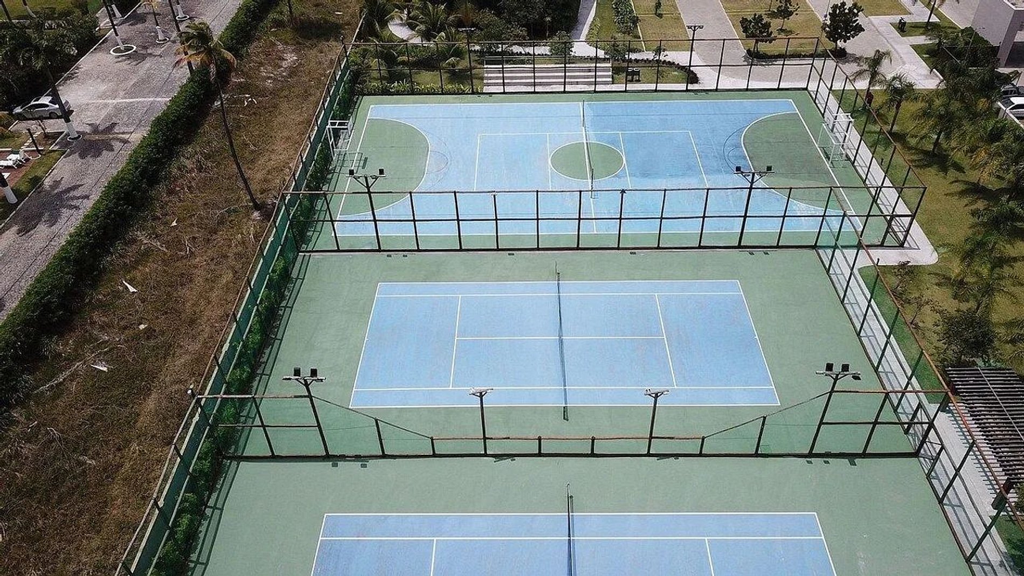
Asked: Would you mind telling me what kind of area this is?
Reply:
sports ground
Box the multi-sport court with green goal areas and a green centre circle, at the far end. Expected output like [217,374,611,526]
[304,89,901,249]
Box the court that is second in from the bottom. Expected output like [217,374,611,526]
[231,248,913,453]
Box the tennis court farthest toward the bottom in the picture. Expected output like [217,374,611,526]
[185,456,974,576]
